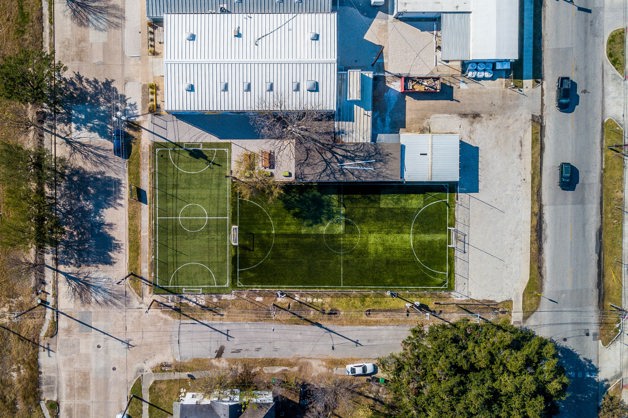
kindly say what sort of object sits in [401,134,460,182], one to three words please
shed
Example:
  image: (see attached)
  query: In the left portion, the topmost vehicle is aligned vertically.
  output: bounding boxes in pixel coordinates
[112,129,126,160]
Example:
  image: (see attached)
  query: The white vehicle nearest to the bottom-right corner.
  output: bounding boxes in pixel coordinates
[345,364,375,378]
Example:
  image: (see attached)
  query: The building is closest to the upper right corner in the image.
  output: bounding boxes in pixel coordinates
[389,0,519,64]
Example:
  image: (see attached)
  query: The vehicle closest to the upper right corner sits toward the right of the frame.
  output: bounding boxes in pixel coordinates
[555,77,572,111]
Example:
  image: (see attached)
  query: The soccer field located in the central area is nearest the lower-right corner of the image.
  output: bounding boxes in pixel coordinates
[231,180,456,293]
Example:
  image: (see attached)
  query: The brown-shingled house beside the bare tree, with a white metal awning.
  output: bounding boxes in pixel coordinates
[246,386,288,418]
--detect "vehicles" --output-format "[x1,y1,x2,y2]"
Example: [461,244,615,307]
[555,77,572,111]
[370,0,383,6]
[112,129,126,160]
[557,164,573,189]
[345,364,375,378]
